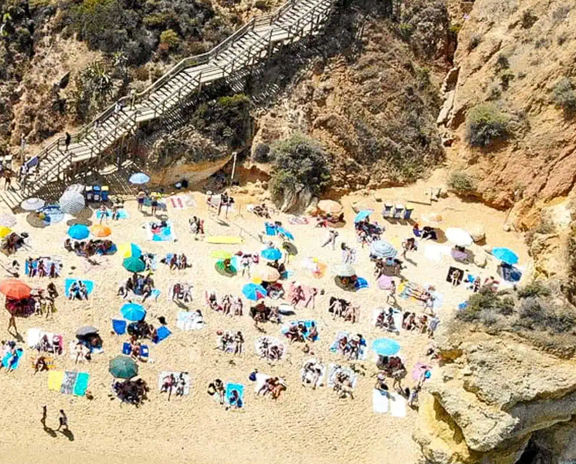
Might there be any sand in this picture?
Yes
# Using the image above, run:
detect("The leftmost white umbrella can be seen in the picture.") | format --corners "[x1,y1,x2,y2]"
[0,216,18,231]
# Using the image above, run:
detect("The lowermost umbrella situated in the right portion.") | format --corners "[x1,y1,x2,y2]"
[359,338,404,379]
